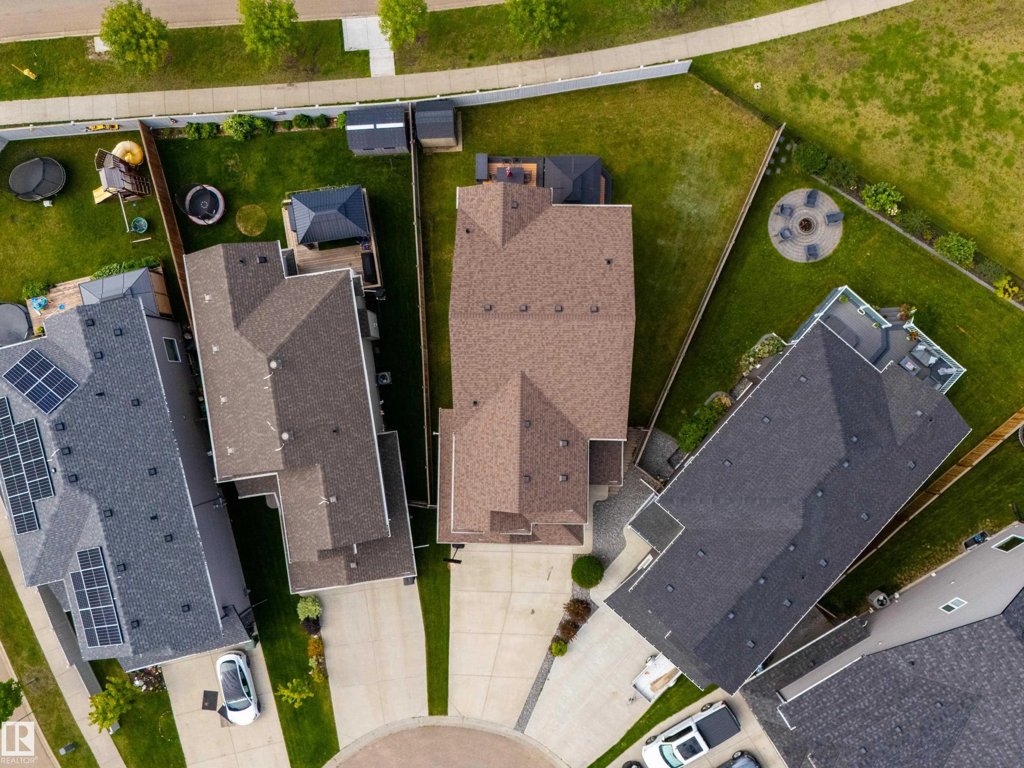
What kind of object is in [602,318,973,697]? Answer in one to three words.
house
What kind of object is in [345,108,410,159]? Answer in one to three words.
shed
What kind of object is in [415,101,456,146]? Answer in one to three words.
shed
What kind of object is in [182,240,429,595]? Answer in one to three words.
house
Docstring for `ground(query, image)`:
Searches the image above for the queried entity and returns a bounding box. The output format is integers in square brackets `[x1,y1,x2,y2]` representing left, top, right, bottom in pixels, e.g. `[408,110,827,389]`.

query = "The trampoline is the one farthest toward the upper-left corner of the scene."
[17,157,74,206]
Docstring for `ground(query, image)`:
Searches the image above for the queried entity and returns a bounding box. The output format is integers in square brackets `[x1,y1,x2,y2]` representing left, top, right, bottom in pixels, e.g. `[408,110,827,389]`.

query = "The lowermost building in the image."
[747,533,1024,768]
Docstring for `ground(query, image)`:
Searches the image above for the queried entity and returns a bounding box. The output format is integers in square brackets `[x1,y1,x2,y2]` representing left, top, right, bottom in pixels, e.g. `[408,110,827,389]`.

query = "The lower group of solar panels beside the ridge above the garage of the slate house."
[67,548,121,649]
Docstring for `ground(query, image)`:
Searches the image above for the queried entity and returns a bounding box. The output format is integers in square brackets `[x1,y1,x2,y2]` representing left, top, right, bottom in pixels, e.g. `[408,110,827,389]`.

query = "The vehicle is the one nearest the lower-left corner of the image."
[210,654,260,733]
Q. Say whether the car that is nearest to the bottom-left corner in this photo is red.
No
